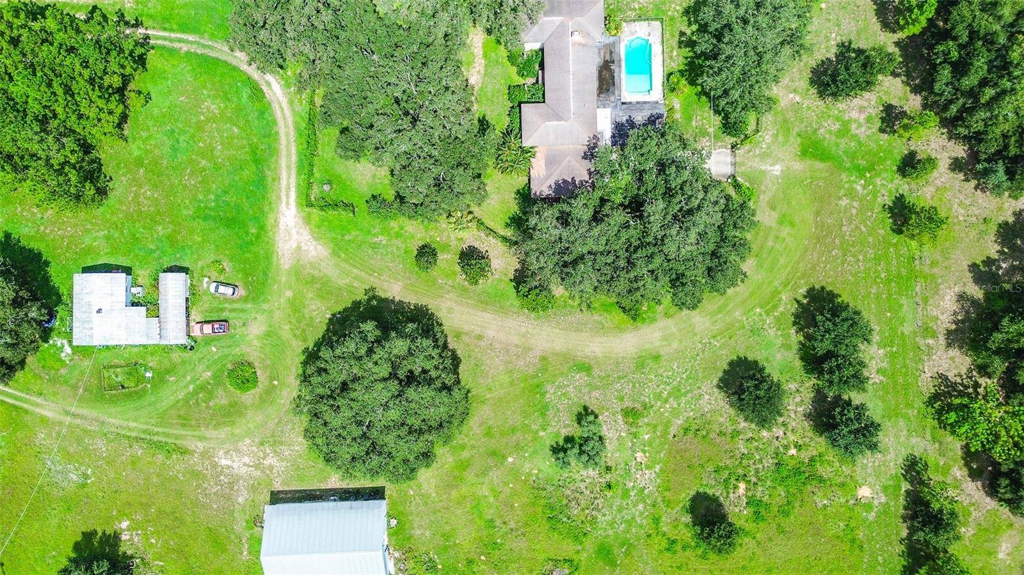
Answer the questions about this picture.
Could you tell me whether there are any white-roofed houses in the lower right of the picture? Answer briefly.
No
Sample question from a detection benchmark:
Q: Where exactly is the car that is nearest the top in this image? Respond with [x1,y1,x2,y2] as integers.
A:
[209,282,241,297]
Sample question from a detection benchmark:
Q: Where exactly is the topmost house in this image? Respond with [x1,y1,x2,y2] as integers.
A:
[521,0,611,197]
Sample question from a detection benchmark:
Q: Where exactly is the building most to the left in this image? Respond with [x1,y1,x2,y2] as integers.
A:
[74,273,154,346]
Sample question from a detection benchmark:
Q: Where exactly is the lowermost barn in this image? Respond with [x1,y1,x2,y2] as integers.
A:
[260,495,393,575]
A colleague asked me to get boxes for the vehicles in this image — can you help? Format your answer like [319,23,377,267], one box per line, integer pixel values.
[192,321,230,336]
[209,282,241,297]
